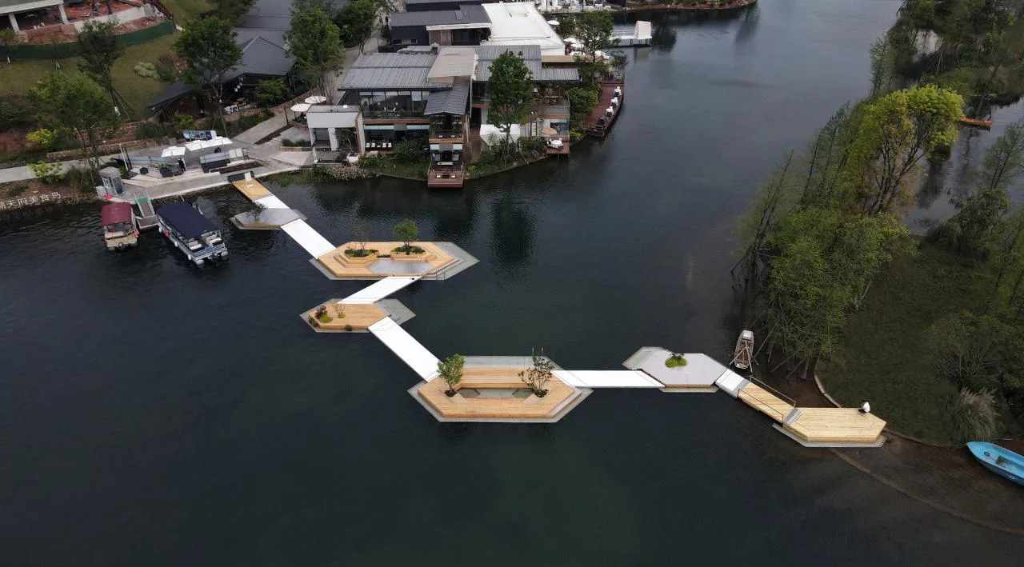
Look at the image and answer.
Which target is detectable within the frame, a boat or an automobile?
boat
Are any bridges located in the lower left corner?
No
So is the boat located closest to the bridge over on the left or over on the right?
right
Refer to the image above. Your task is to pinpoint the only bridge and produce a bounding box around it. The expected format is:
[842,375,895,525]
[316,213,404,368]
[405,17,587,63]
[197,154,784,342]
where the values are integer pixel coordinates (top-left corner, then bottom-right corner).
[715,369,749,400]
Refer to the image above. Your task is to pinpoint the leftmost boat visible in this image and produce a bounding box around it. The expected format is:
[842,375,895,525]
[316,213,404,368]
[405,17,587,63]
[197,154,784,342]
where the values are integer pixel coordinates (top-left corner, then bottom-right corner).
[94,198,138,252]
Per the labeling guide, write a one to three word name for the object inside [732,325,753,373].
boat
